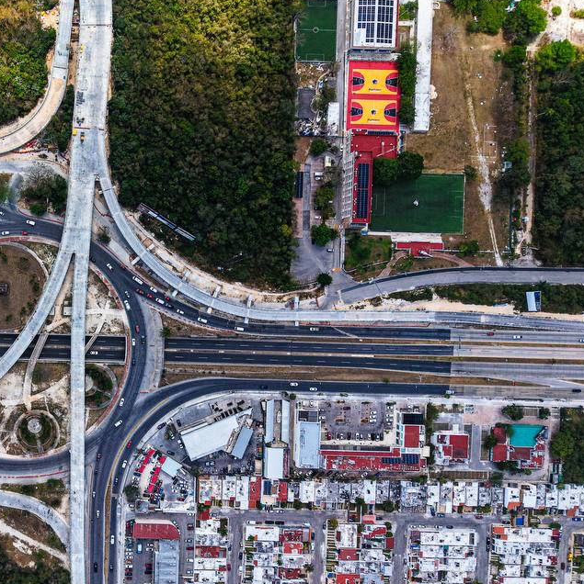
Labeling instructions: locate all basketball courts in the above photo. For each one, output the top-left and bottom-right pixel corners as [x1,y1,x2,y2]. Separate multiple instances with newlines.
[351,99,399,124]
[352,69,400,94]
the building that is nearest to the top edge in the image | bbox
[349,0,397,51]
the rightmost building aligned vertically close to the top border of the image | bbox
[412,0,432,132]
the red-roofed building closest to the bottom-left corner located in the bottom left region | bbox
[132,522,179,539]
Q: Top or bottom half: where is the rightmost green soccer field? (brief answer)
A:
top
